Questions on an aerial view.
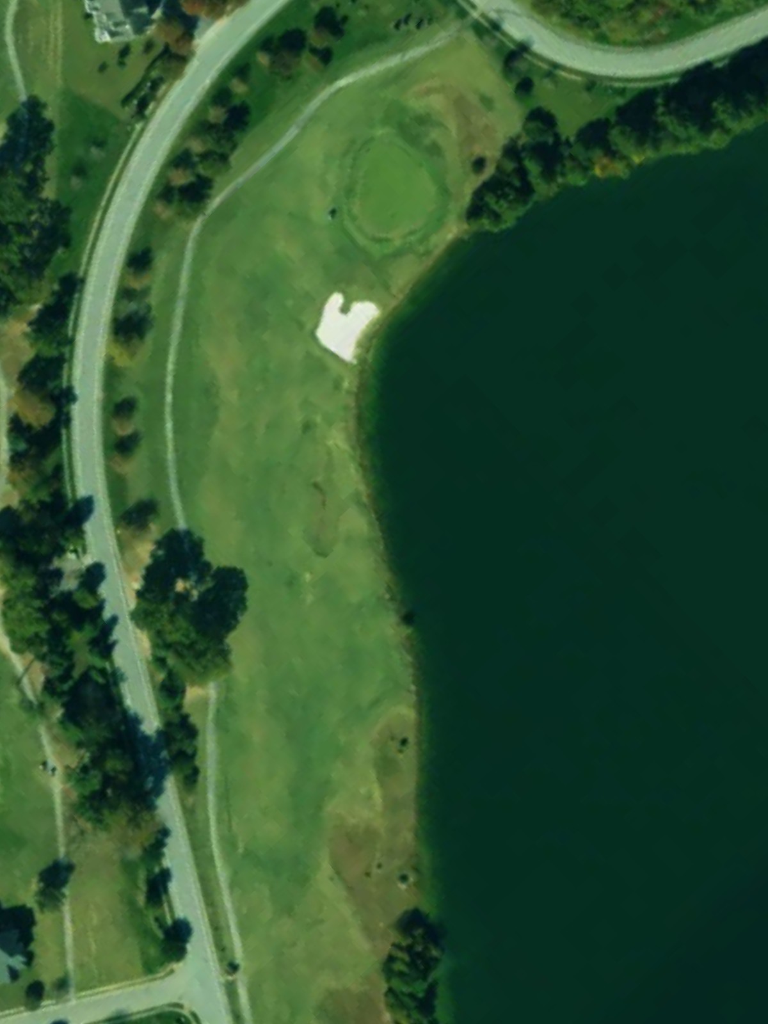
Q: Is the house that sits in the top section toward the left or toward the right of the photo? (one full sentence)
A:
It is on the left.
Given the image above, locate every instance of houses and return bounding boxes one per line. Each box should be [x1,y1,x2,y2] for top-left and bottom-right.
[0,946,26,986]
[86,0,150,42]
